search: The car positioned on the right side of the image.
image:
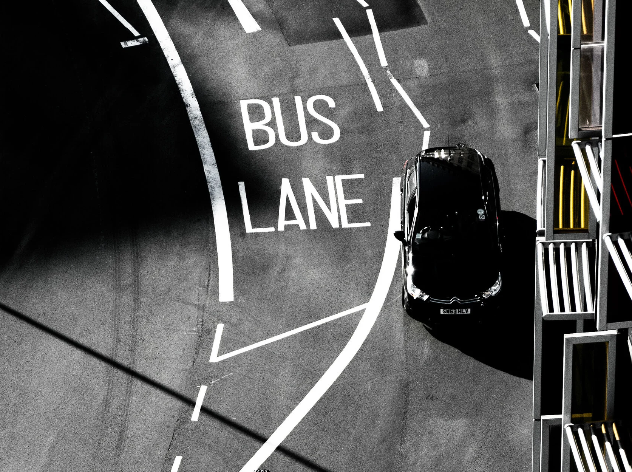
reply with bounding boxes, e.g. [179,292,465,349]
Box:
[390,128,516,325]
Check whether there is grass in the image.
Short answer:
No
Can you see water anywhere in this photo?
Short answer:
No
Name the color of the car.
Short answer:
black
